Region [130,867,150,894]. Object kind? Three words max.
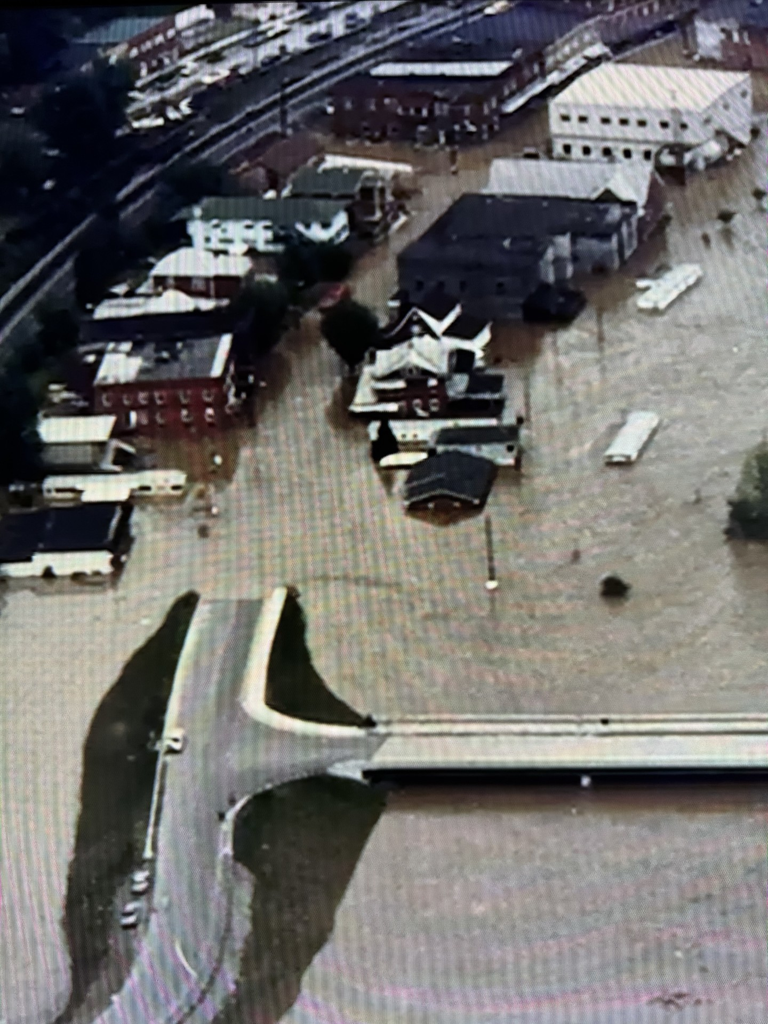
car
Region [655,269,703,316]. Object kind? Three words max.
trailer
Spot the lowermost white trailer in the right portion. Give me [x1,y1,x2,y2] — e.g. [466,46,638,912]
[605,412,660,466]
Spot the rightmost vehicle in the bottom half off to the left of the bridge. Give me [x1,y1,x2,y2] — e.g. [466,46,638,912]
[163,729,184,755]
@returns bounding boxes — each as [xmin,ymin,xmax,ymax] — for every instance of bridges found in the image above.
[326,713,768,794]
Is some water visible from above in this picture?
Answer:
Yes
